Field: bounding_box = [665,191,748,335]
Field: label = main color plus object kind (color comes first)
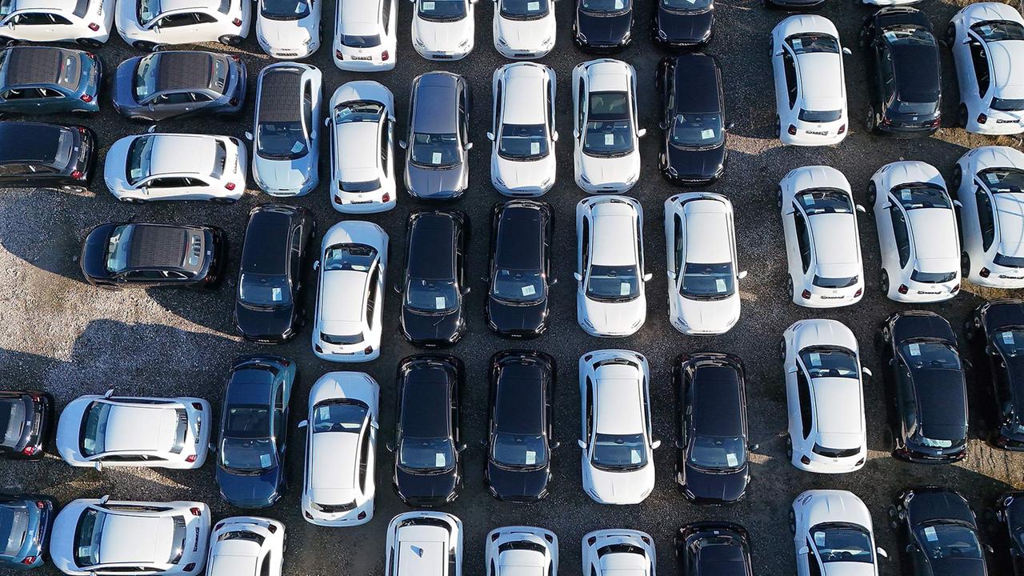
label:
white car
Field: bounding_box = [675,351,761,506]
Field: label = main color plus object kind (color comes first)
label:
black car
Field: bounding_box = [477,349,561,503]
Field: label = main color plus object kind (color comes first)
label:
black car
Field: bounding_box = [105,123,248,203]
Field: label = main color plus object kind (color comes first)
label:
white car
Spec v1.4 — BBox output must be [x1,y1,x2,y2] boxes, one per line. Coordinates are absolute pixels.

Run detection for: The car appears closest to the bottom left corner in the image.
[0,494,55,569]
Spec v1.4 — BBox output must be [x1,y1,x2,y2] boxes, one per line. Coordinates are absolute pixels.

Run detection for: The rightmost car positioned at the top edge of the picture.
[948,5,1024,134]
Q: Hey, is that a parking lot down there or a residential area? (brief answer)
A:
parking lot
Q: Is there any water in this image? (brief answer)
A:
No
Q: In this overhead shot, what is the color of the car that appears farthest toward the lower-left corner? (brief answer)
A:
blue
